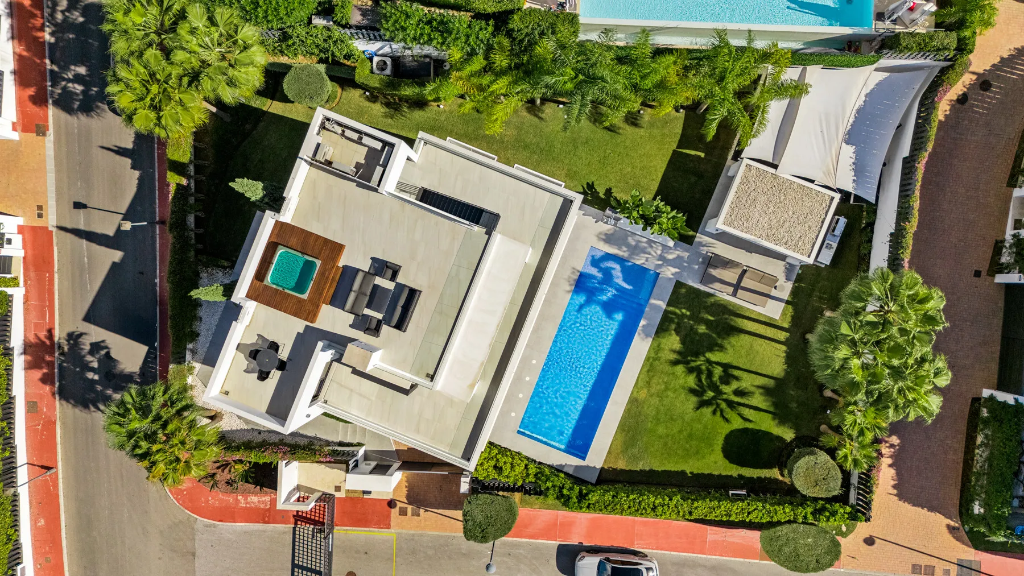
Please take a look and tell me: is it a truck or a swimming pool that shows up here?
swimming pool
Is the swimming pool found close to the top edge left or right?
right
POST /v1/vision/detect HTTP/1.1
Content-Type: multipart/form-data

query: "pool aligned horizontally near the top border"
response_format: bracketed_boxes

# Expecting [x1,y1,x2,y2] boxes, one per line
[575,0,877,53]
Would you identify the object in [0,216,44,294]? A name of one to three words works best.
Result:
building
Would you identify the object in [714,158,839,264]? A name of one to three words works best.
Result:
building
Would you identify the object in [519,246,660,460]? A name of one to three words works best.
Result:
swimming pool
